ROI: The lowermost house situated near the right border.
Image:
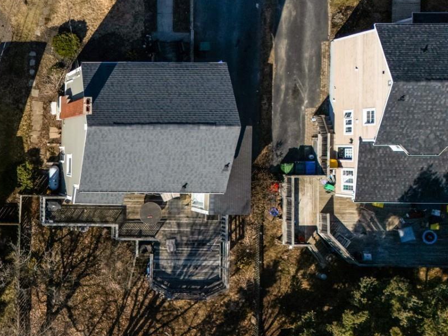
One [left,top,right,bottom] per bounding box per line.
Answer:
[329,24,448,203]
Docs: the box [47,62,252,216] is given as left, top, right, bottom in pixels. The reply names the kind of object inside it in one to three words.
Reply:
house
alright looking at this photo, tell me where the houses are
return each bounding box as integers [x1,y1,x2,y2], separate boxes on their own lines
[47,62,252,216]
[329,24,448,203]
